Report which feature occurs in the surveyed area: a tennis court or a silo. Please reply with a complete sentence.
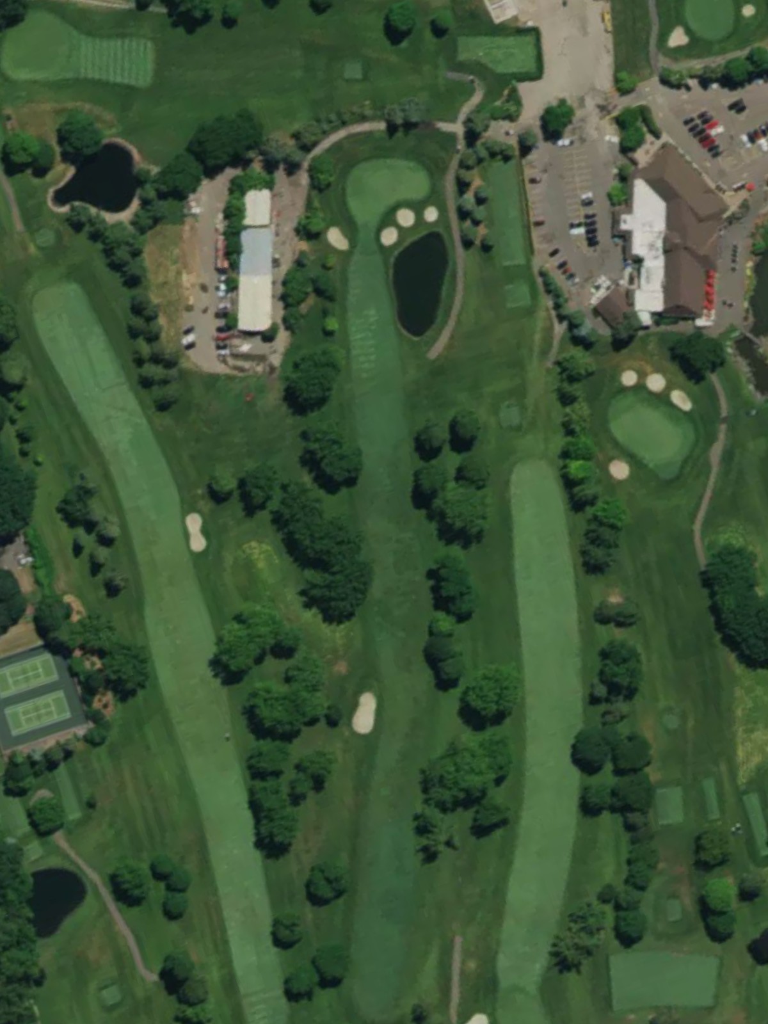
The one in the frame is a tennis court.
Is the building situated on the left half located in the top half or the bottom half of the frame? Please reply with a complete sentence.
The top half of the photo is where the building situated on the left half is.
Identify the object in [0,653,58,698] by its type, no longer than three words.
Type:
tennis court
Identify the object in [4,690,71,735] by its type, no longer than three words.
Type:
tennis court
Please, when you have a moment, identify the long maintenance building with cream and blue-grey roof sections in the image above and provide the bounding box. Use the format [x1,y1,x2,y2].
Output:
[238,189,272,330]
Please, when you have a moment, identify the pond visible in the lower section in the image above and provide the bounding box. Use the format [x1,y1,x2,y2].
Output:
[22,868,86,938]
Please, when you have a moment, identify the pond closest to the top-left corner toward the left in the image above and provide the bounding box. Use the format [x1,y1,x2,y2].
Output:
[53,141,137,212]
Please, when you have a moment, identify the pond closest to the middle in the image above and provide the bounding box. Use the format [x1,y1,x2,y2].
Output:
[392,232,448,337]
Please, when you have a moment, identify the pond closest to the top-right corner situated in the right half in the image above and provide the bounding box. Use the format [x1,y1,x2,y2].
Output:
[734,251,768,395]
